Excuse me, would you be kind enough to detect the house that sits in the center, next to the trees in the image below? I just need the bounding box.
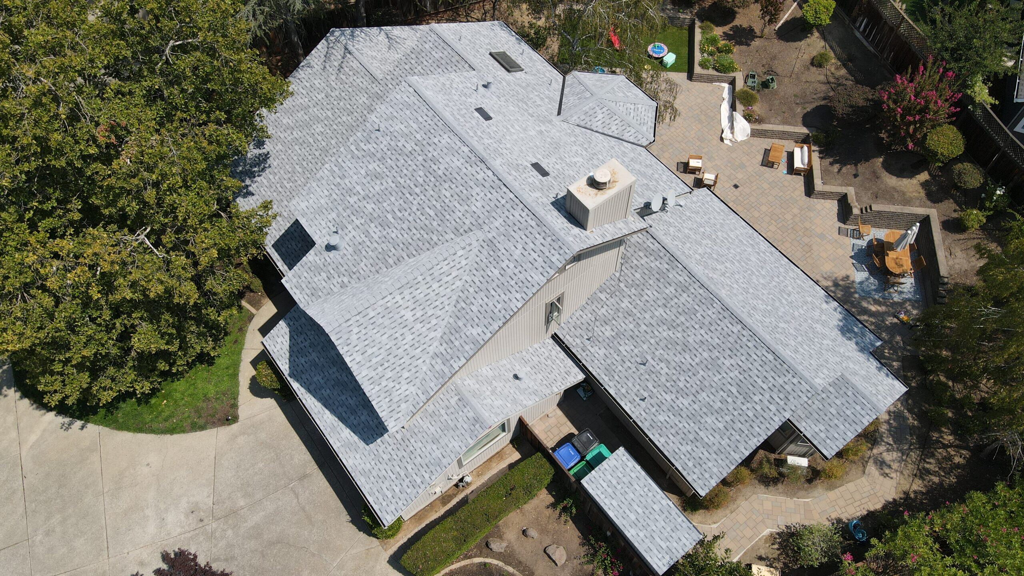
[215,21,910,530]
